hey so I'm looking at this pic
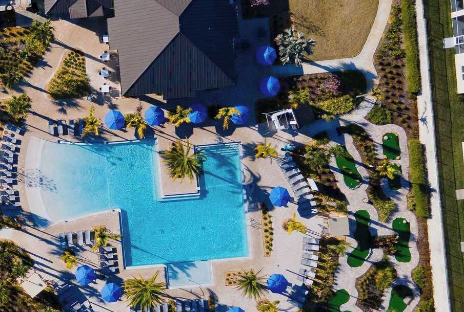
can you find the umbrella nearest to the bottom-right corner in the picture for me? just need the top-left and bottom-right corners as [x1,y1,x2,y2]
[266,272,286,292]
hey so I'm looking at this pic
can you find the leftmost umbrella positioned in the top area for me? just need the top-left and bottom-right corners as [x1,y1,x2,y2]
[102,109,124,130]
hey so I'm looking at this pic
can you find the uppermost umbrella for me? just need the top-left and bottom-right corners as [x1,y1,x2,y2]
[256,44,276,66]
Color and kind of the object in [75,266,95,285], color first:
blue umbrella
